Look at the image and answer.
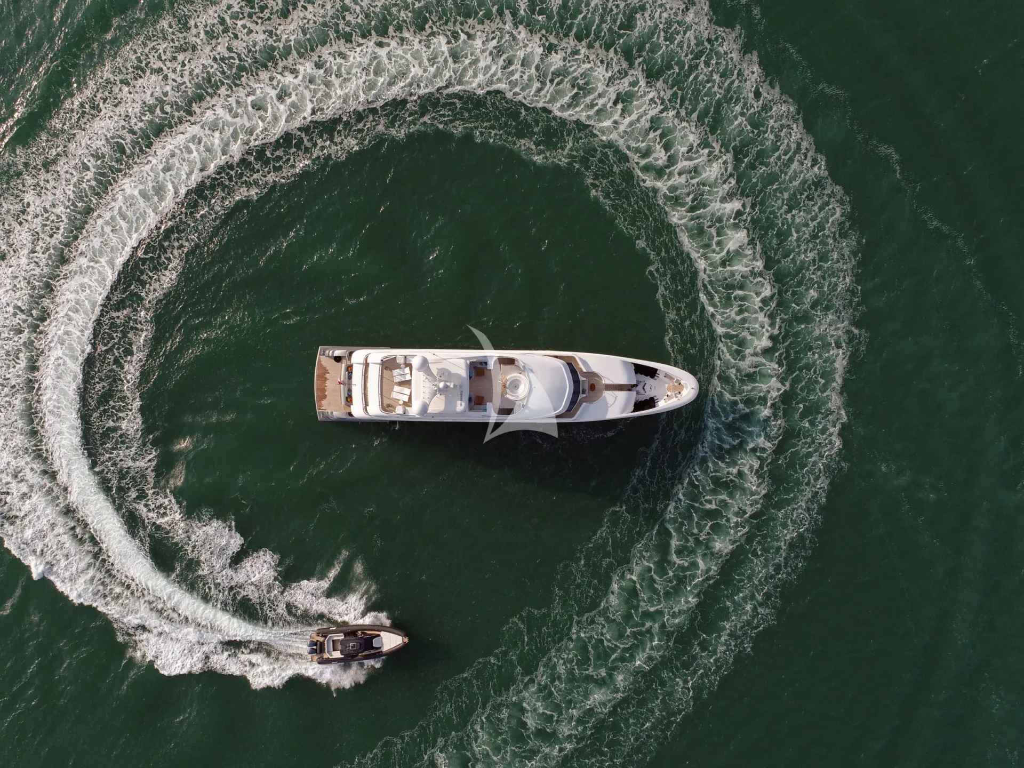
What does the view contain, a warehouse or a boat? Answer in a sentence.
The image shows a boat.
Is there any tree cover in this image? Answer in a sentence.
No, tree cover can't be seen anywhere here.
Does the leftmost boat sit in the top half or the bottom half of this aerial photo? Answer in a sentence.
You can find the leftmost boat in the bottom half.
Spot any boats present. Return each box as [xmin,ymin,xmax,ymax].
[308,625,409,665]
[314,347,699,423]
